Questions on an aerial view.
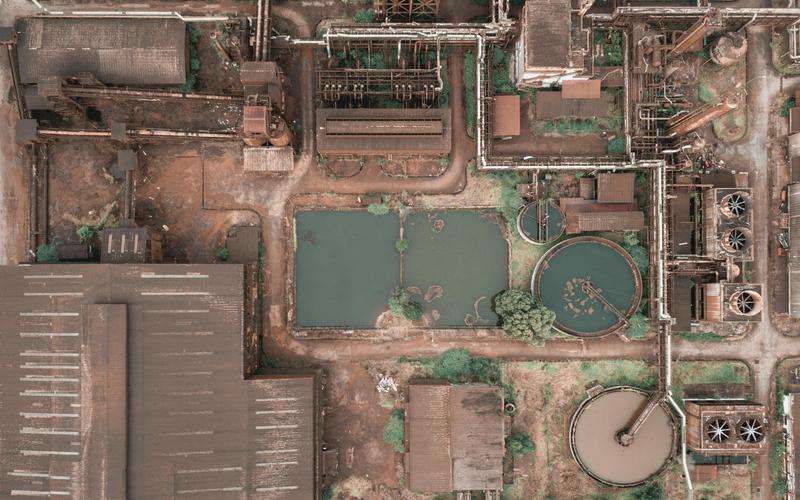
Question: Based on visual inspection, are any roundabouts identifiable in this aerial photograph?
No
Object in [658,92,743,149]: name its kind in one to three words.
chimney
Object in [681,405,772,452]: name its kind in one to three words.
cooling tower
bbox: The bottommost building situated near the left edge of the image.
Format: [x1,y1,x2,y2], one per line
[0,264,316,500]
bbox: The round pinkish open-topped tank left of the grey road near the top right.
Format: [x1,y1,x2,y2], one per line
[695,30,747,73]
